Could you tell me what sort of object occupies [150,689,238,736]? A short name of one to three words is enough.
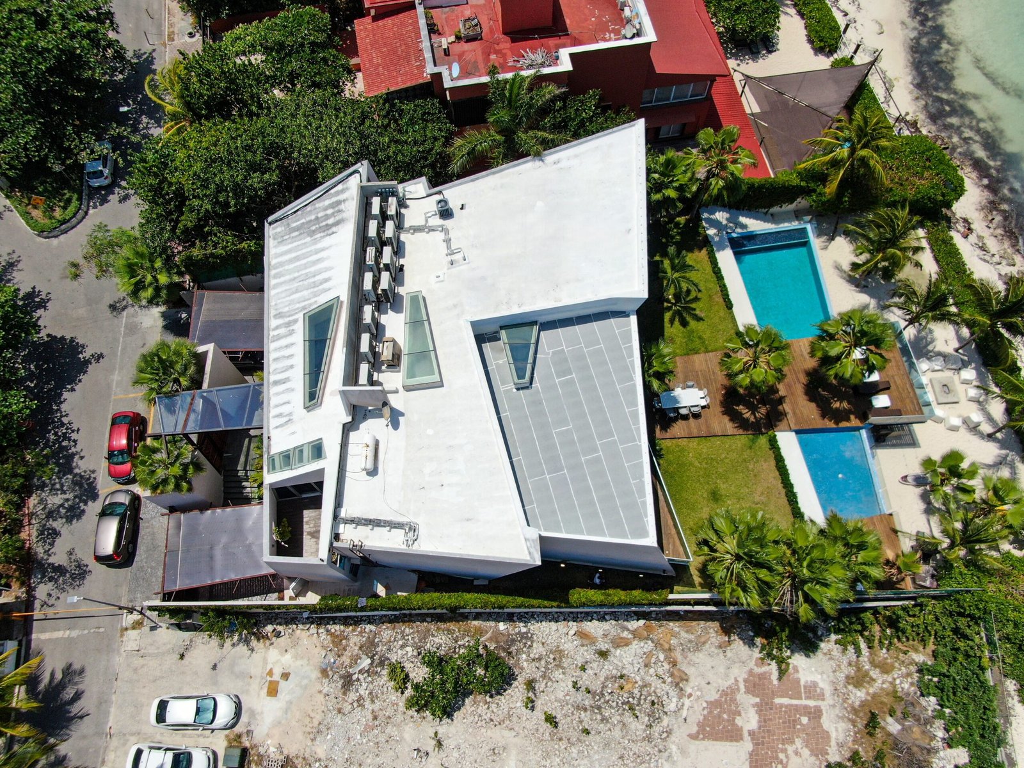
car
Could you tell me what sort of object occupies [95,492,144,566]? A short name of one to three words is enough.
car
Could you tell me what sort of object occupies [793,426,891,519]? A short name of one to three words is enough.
swimming pool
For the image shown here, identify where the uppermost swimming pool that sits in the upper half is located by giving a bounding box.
[728,223,835,341]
